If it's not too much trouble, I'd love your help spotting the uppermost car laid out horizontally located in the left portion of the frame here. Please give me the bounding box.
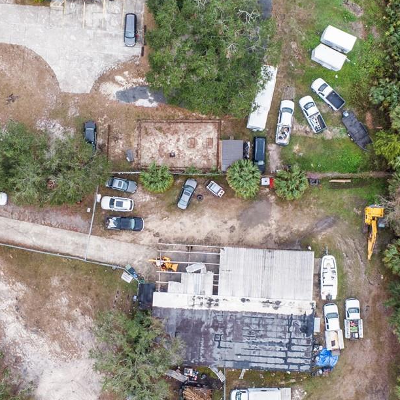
[105,176,138,193]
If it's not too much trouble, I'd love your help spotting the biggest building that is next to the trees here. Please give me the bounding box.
[152,247,319,371]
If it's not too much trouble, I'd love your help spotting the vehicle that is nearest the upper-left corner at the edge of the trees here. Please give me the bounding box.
[122,14,138,47]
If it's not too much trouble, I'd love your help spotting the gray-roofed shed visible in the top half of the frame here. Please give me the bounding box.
[221,140,243,170]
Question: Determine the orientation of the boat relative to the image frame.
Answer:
from top to bottom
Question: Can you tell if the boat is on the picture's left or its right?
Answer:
right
